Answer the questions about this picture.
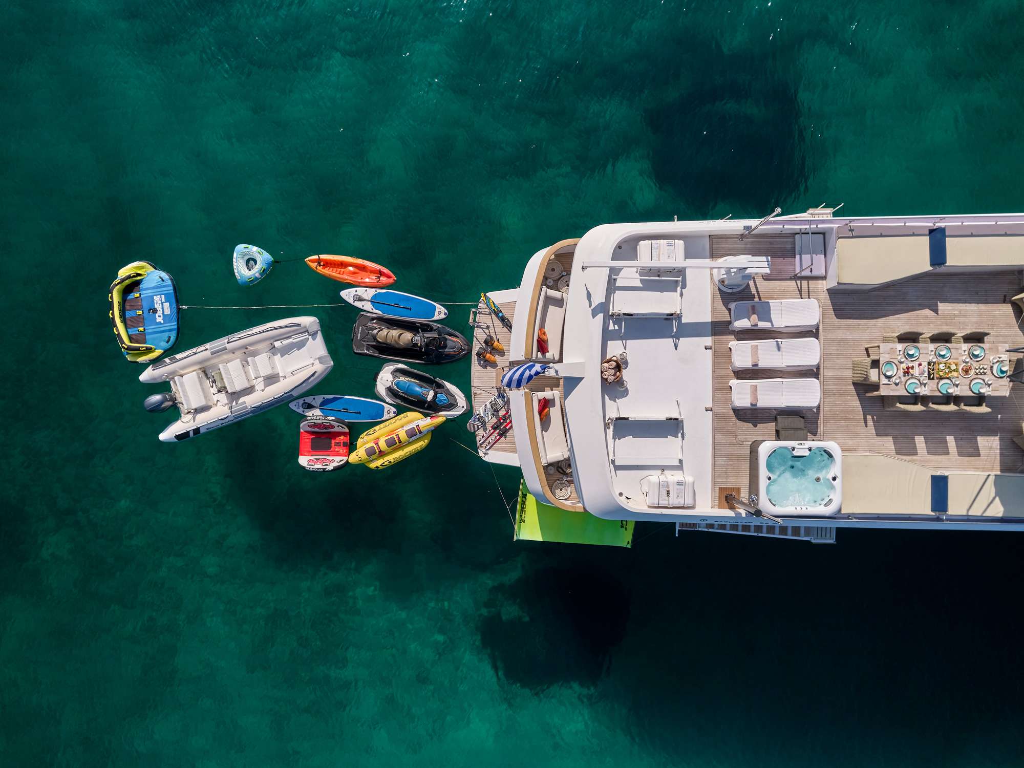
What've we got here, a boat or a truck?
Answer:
boat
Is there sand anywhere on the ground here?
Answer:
No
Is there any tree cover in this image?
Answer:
No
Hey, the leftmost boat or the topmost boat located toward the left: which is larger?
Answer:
the leftmost boat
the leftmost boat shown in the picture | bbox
[139,316,334,441]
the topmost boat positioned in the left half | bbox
[304,256,398,287]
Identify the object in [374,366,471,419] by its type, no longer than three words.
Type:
boat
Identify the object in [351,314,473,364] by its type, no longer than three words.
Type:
boat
